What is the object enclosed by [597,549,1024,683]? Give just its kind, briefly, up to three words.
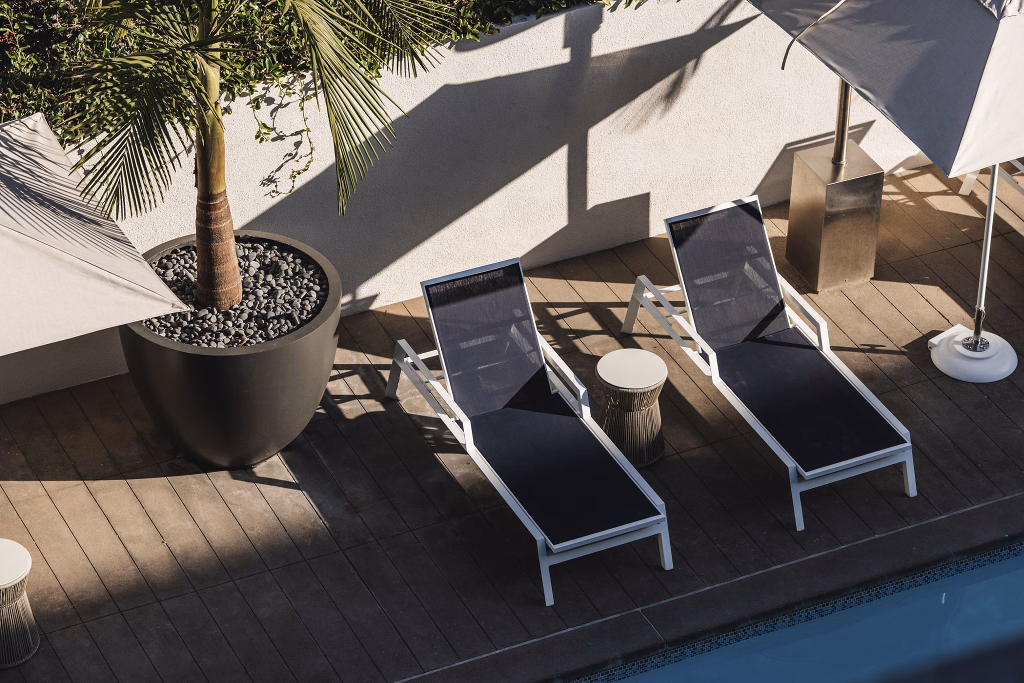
swimming pool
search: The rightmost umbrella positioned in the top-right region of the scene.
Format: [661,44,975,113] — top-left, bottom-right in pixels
[754,0,1024,321]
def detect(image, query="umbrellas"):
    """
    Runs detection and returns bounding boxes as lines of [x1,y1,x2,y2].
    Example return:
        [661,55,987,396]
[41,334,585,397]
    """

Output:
[0,107,192,352]
[754,0,1024,321]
